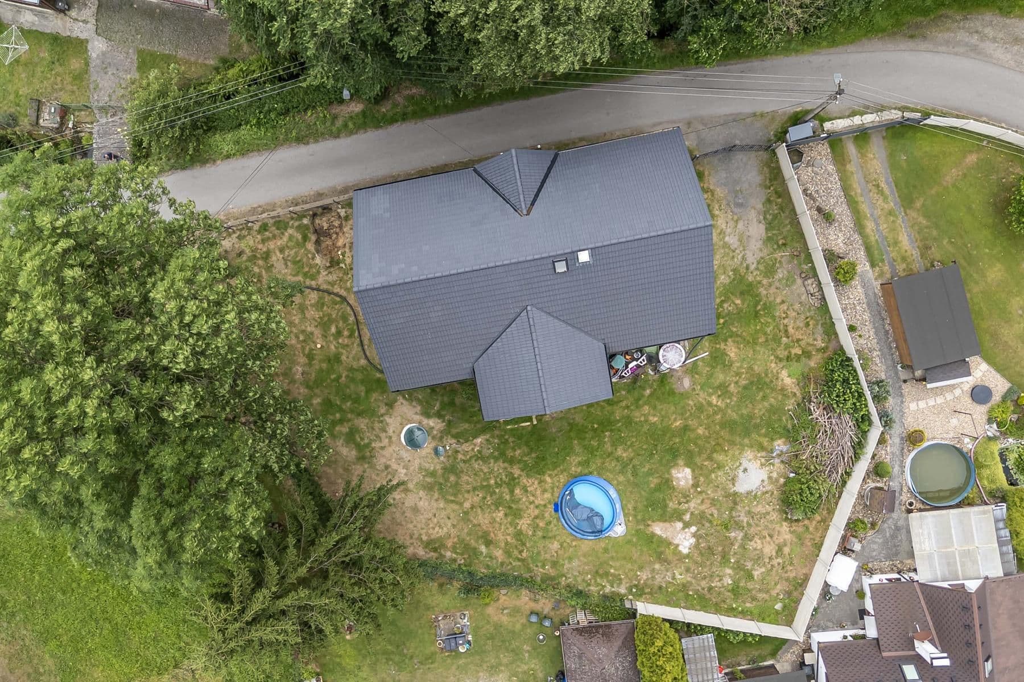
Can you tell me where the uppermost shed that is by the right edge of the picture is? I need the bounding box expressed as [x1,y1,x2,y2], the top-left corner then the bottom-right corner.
[879,264,980,386]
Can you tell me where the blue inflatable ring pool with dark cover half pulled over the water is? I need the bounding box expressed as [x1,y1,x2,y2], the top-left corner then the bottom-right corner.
[558,473,624,539]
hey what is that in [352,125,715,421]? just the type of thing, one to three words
house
